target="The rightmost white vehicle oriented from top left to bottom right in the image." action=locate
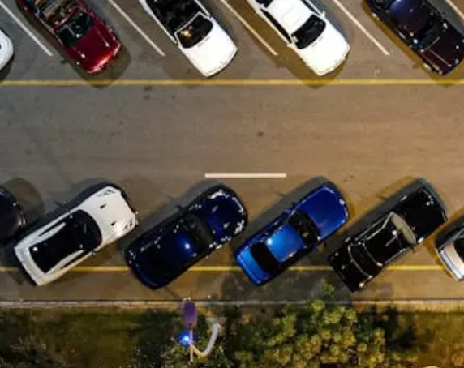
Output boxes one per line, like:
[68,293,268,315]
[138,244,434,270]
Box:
[249,0,343,73]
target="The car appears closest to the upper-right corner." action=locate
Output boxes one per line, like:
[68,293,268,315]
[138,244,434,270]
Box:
[366,0,464,72]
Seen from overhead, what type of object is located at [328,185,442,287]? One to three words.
car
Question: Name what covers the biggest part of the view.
paved ground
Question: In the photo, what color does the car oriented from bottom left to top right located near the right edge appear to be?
black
